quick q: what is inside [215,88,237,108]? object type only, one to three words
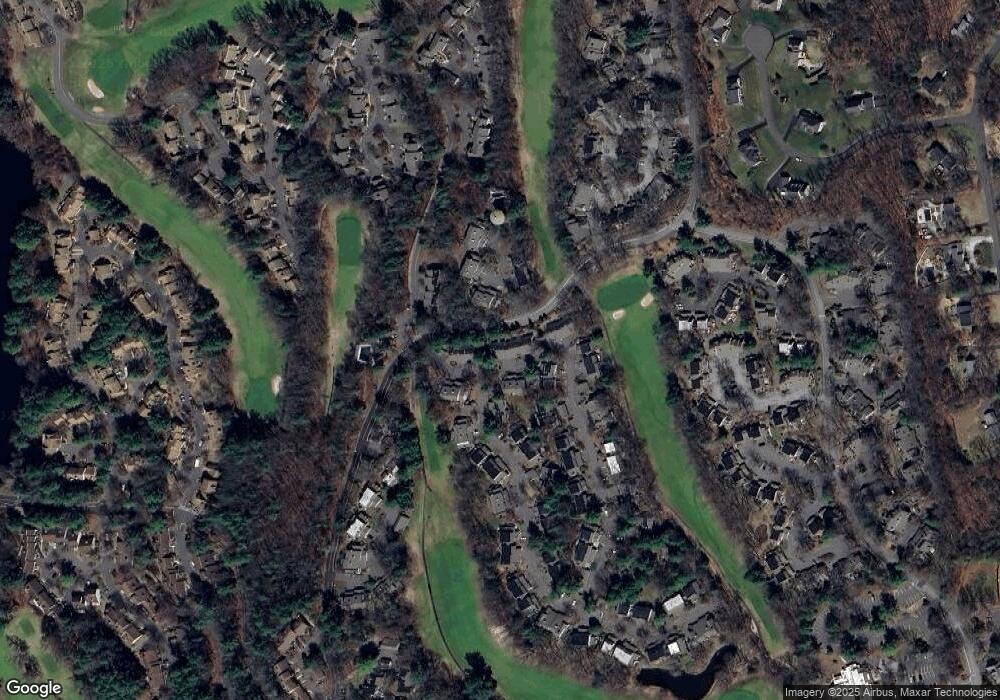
house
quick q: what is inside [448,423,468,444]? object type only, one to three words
house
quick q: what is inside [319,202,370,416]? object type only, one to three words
golf course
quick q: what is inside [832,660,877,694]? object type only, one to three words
building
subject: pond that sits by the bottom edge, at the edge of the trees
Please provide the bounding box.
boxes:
[637,643,738,699]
